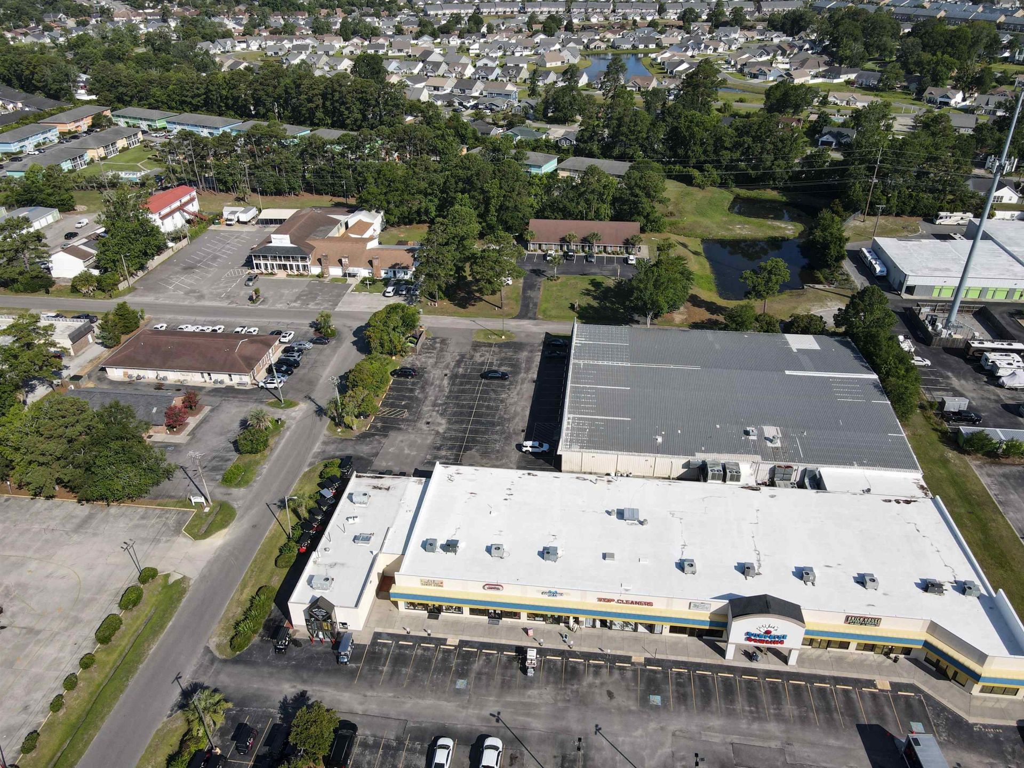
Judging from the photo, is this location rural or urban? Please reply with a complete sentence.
The area shown here is urban.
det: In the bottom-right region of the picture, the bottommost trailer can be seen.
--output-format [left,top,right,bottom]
[896,730,944,768]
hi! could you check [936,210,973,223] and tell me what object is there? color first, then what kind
white vehicle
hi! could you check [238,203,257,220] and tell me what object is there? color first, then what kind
white vehicle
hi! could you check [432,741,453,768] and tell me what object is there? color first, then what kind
white car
